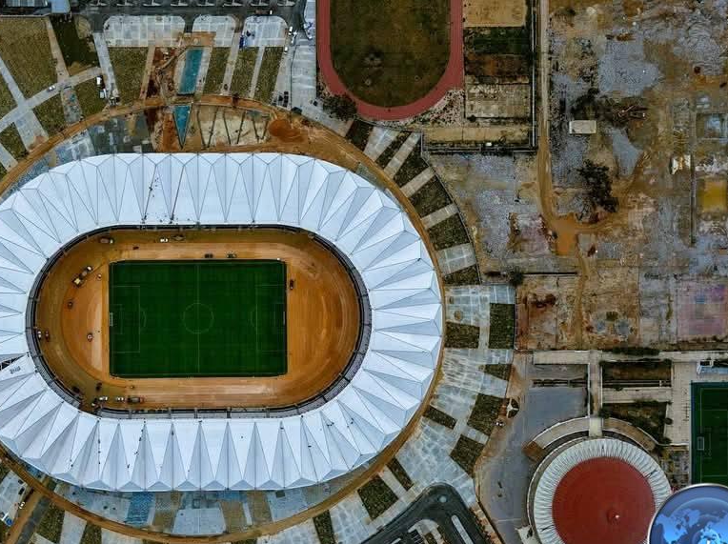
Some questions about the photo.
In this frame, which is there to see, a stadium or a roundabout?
stadium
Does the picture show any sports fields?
Yes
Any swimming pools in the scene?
Yes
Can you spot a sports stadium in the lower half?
Yes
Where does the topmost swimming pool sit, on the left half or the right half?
left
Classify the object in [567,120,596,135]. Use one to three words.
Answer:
building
